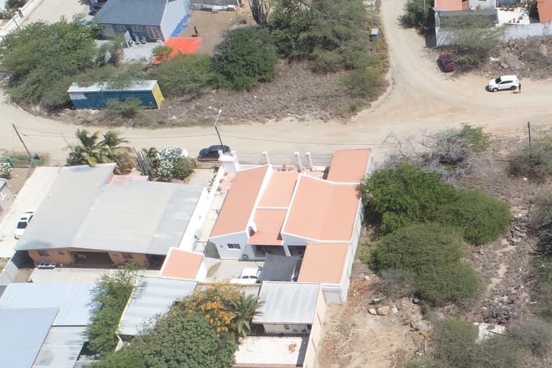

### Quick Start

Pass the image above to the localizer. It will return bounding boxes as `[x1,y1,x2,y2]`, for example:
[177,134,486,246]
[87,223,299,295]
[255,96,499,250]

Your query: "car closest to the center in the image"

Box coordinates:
[195,142,233,161]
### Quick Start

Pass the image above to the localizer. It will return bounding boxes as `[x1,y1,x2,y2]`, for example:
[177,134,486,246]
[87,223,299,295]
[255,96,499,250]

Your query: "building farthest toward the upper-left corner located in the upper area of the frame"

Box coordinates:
[94,0,190,42]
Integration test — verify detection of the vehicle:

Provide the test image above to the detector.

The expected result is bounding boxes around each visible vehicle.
[486,74,519,93]
[219,267,271,288]
[438,53,456,74]
[86,0,104,15]
[9,212,37,241]
[195,142,233,161]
